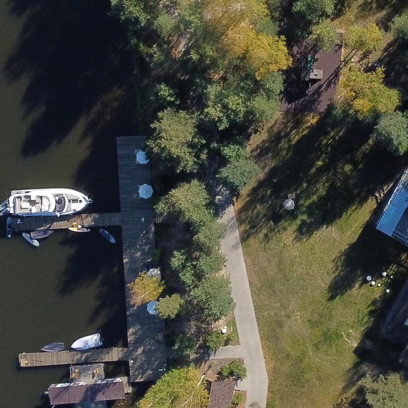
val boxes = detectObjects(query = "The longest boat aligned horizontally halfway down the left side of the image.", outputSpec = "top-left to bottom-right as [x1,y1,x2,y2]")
[10,190,95,217]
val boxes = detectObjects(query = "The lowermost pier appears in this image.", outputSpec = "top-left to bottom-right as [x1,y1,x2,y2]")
[19,347,130,367]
